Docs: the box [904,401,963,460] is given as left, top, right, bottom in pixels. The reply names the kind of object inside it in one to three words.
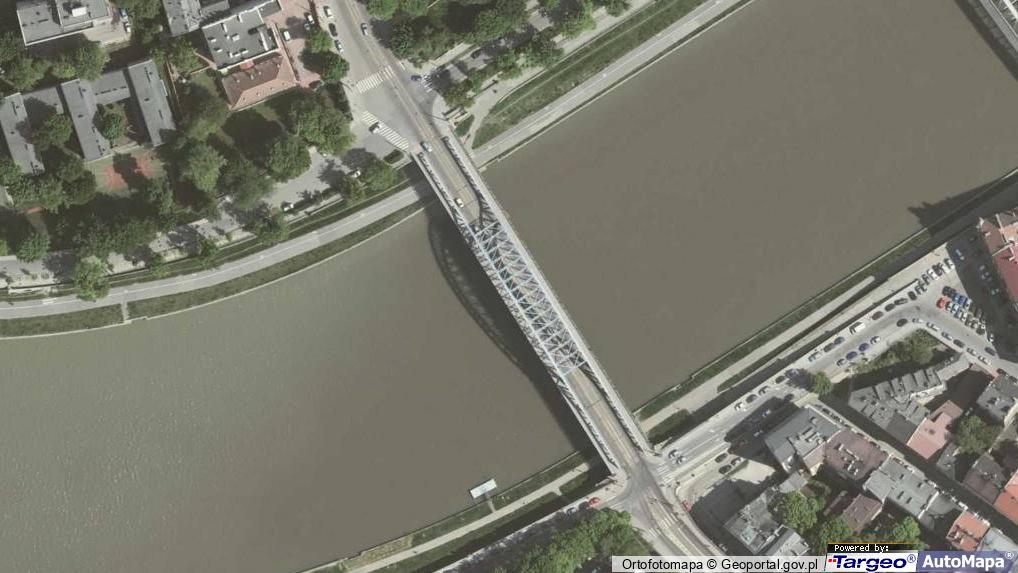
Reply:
house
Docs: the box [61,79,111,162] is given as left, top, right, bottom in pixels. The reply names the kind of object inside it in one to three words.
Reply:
building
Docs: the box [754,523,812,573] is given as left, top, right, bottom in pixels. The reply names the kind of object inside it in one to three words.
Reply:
house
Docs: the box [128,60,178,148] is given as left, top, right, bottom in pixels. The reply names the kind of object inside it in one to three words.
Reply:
building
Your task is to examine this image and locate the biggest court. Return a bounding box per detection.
[85,147,168,196]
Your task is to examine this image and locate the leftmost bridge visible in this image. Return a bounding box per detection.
[413,119,653,478]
